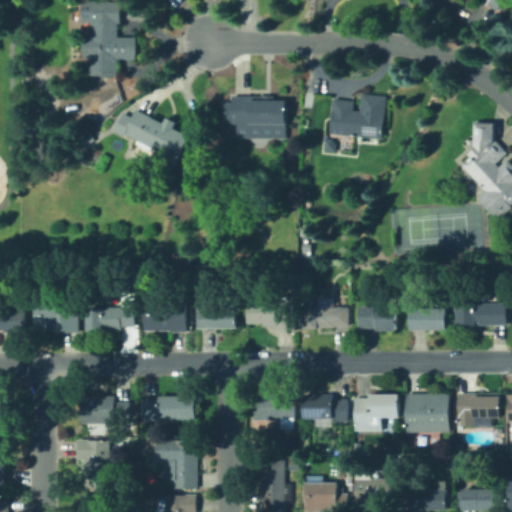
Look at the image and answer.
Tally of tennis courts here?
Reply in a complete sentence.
I count 1 tennis court.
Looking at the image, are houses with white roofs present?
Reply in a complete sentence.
Yes, there's a house with a white roof down there.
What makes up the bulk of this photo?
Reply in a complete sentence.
Most of the picture is covered by trees.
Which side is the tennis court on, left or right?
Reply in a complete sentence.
The tennis court sits on the right side.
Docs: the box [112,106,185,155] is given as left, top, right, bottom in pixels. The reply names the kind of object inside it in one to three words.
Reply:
house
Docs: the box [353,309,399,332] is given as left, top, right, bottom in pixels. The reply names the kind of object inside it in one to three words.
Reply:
house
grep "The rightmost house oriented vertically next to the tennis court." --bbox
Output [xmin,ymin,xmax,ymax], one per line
[464,120,512,216]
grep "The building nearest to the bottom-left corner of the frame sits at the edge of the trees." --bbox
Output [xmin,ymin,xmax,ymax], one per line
[75,440,110,462]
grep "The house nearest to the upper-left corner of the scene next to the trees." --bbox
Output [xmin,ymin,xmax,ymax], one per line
[80,2,136,76]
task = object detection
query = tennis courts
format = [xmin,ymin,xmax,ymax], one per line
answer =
[394,204,485,258]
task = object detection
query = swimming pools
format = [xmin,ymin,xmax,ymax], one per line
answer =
[466,432,494,445]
